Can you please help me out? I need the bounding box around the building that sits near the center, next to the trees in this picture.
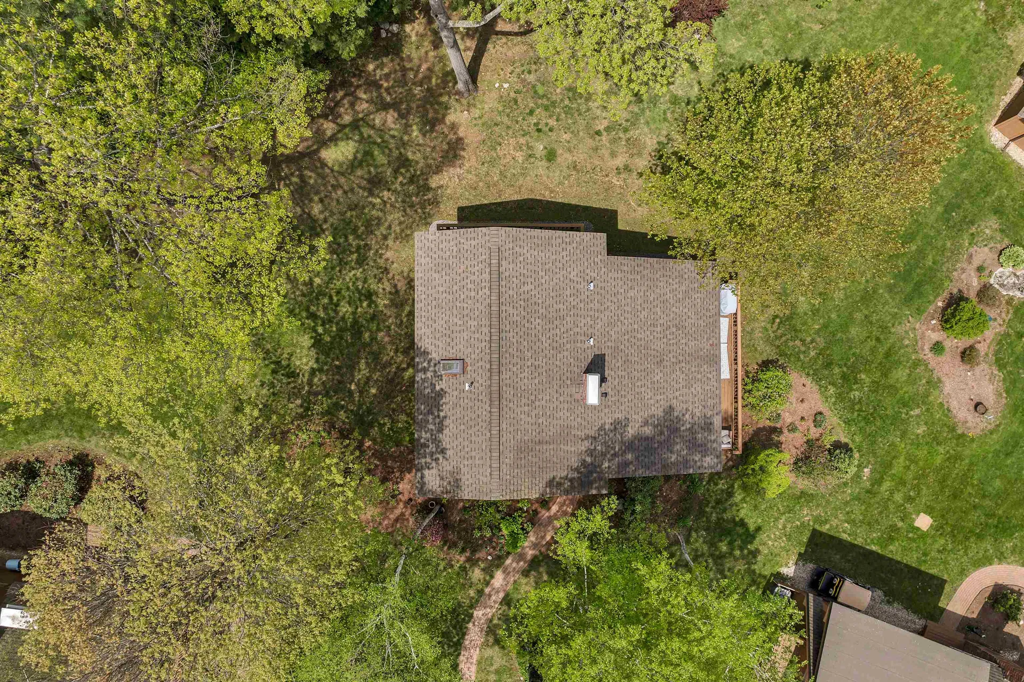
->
[415,227,721,500]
